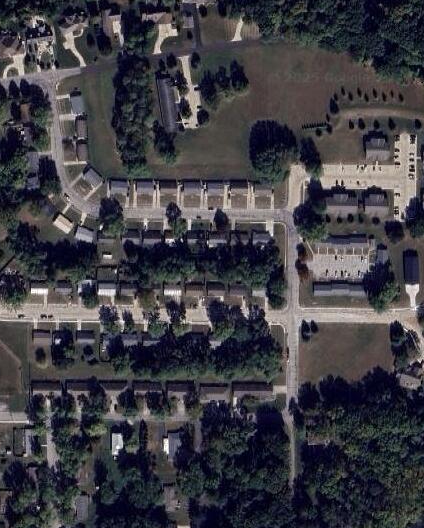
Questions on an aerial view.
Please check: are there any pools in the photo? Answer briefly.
No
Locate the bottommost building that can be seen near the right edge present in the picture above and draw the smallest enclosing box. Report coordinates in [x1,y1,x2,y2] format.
[399,367,424,389]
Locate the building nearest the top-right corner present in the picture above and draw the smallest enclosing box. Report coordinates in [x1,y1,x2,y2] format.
[366,139,391,159]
